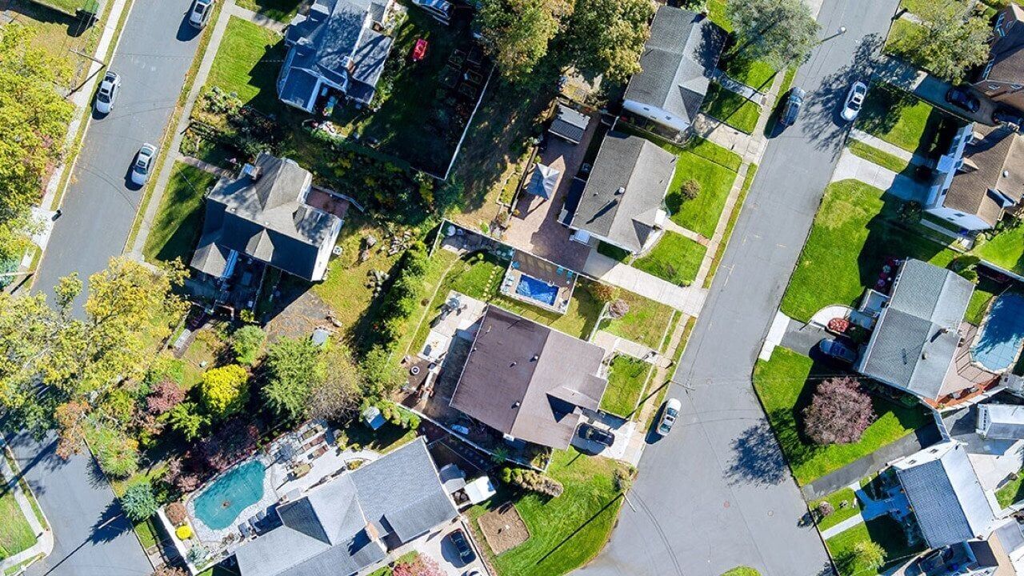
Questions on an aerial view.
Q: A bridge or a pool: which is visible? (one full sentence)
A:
Looking from above, you can make out a pool.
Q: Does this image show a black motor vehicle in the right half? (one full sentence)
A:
Yes, a black motor vehicle can be seen in the right half.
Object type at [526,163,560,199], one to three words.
gazebo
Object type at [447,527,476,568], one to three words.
car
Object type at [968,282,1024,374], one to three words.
swimming pool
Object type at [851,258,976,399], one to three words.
house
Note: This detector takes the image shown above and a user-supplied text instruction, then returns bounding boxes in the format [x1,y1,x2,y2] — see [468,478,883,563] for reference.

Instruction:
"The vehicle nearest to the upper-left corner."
[96,69,122,115]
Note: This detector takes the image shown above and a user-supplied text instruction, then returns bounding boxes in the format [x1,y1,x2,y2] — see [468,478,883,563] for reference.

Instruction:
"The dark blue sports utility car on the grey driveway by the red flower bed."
[817,335,859,366]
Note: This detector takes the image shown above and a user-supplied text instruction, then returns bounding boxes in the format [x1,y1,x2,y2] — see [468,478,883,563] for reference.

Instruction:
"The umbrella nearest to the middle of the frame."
[447,297,461,311]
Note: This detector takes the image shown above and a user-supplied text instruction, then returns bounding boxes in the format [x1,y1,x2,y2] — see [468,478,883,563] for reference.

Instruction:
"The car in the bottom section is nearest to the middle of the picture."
[575,421,616,448]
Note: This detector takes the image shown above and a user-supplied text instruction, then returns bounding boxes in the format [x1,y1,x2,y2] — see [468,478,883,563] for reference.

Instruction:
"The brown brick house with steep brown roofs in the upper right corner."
[964,5,1024,111]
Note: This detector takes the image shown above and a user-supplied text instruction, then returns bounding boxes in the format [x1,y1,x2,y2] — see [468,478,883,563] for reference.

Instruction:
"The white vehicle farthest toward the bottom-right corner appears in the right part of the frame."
[654,395,682,440]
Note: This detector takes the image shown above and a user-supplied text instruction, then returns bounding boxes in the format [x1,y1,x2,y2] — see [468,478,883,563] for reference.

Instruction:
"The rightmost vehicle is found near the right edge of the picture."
[988,106,1023,125]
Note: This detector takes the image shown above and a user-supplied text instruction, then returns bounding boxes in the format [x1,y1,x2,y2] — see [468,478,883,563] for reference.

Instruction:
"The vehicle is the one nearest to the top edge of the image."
[188,0,217,32]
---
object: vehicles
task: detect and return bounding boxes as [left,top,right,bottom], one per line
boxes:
[654,395,682,440]
[777,83,807,129]
[575,421,616,448]
[817,335,859,366]
[988,106,1023,125]
[188,0,217,32]
[943,83,986,116]
[447,527,476,568]
[96,69,122,115]
[131,141,158,187]
[466,563,488,576]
